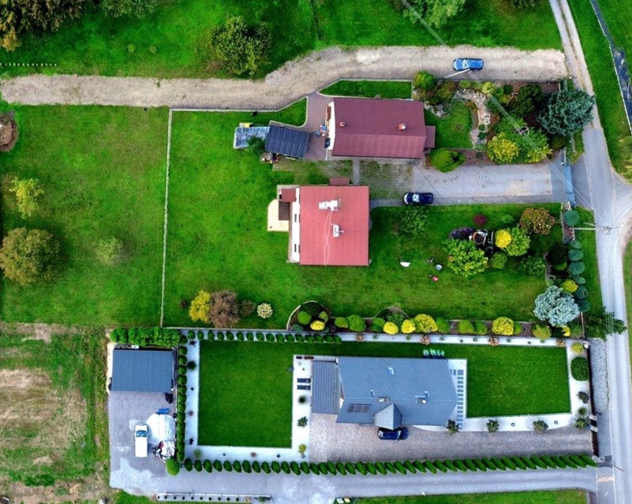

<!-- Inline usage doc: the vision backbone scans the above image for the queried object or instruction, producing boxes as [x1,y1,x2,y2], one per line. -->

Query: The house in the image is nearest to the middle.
[278,178,370,266]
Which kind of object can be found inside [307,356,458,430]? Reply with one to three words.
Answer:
house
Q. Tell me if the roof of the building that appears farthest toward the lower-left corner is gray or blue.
blue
